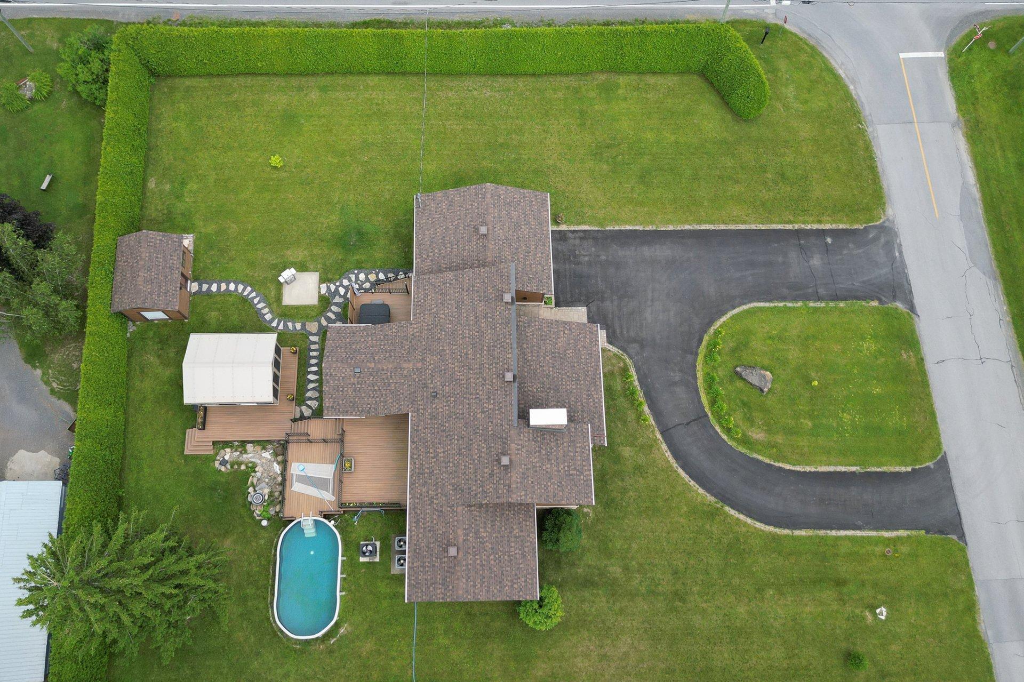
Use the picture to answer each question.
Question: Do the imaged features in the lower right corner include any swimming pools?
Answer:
No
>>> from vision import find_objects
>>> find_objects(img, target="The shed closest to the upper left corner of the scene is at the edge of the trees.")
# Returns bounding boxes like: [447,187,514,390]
[110,230,195,325]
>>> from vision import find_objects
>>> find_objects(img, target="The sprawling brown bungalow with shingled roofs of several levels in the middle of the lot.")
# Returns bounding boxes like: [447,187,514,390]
[323,182,608,604]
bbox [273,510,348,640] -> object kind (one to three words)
swimming pool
